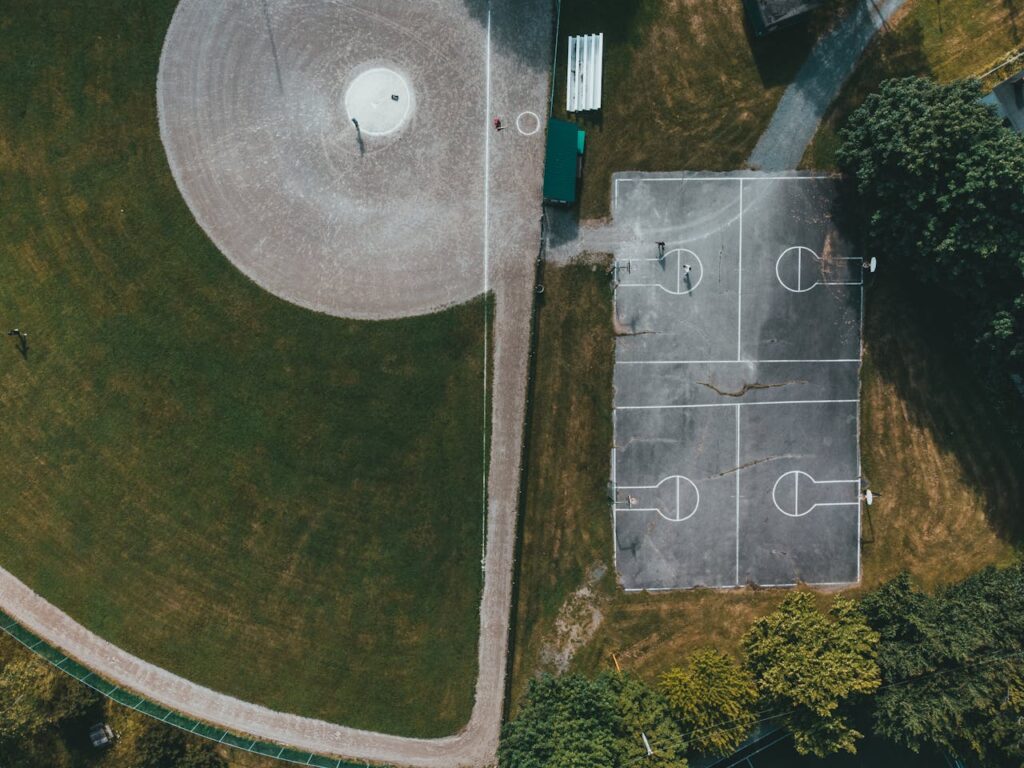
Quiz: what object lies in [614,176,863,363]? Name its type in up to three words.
basketball court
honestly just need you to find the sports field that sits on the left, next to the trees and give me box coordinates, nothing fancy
[0,0,540,741]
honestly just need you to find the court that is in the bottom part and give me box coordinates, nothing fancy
[612,400,860,591]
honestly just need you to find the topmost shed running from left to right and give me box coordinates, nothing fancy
[741,0,830,38]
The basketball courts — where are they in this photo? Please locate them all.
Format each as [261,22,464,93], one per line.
[612,400,860,591]
[614,176,863,363]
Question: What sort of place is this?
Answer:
sports ground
